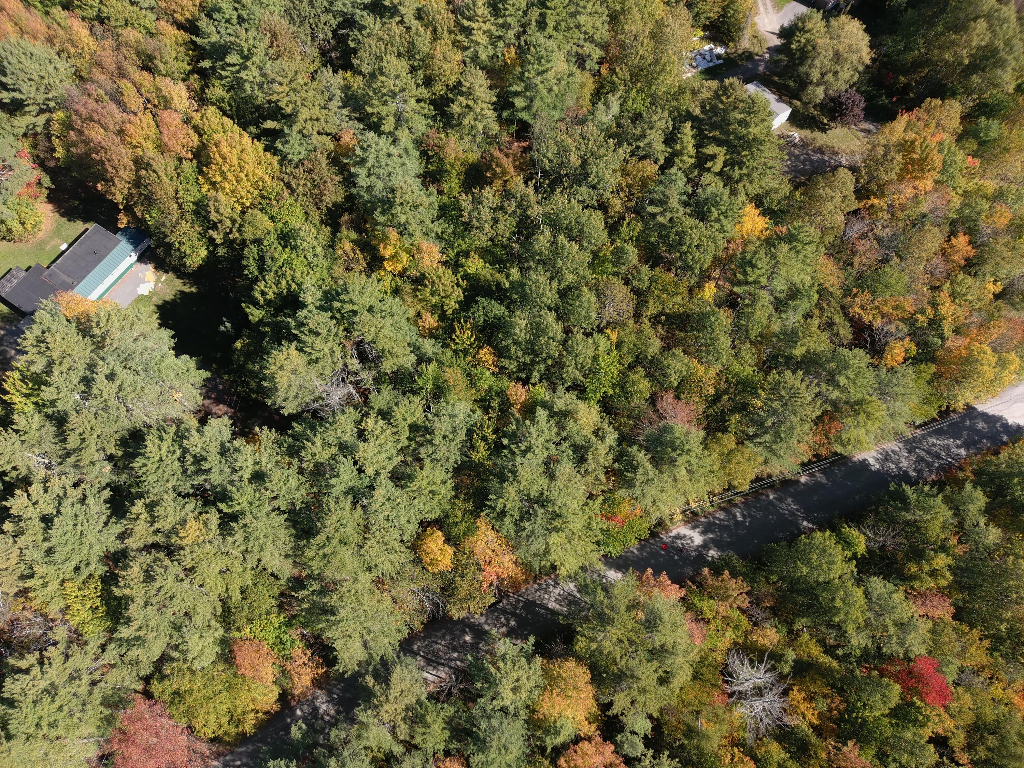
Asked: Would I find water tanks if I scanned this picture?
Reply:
No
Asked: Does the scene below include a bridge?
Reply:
No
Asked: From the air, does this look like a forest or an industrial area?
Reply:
forest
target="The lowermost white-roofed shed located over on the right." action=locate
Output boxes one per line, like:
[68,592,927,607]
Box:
[753,81,792,132]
